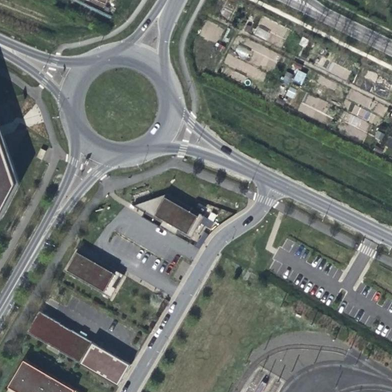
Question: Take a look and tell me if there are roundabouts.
Yes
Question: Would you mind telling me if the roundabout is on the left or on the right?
left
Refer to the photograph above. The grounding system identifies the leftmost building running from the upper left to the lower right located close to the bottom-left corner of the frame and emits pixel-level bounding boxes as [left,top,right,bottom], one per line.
[26,312,88,364]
